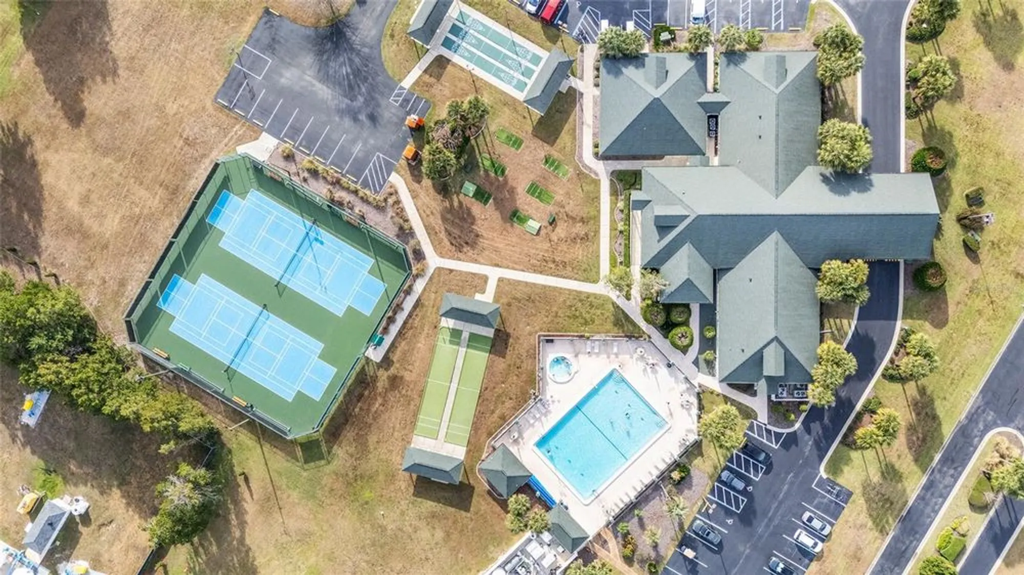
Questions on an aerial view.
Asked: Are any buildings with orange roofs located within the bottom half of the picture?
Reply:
No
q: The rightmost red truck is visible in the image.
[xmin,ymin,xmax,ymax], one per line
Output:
[538,0,564,27]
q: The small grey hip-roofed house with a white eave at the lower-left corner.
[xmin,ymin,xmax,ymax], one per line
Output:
[23,497,71,556]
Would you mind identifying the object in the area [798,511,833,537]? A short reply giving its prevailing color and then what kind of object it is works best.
white car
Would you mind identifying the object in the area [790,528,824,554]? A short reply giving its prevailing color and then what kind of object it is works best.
white car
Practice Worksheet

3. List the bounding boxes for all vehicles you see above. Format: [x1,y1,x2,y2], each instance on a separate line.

[790,528,824,554]
[736,439,775,468]
[538,0,564,27]
[798,511,833,537]
[678,543,697,561]
[402,113,428,130]
[715,468,749,495]
[525,0,543,13]
[763,553,804,575]
[690,519,724,546]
